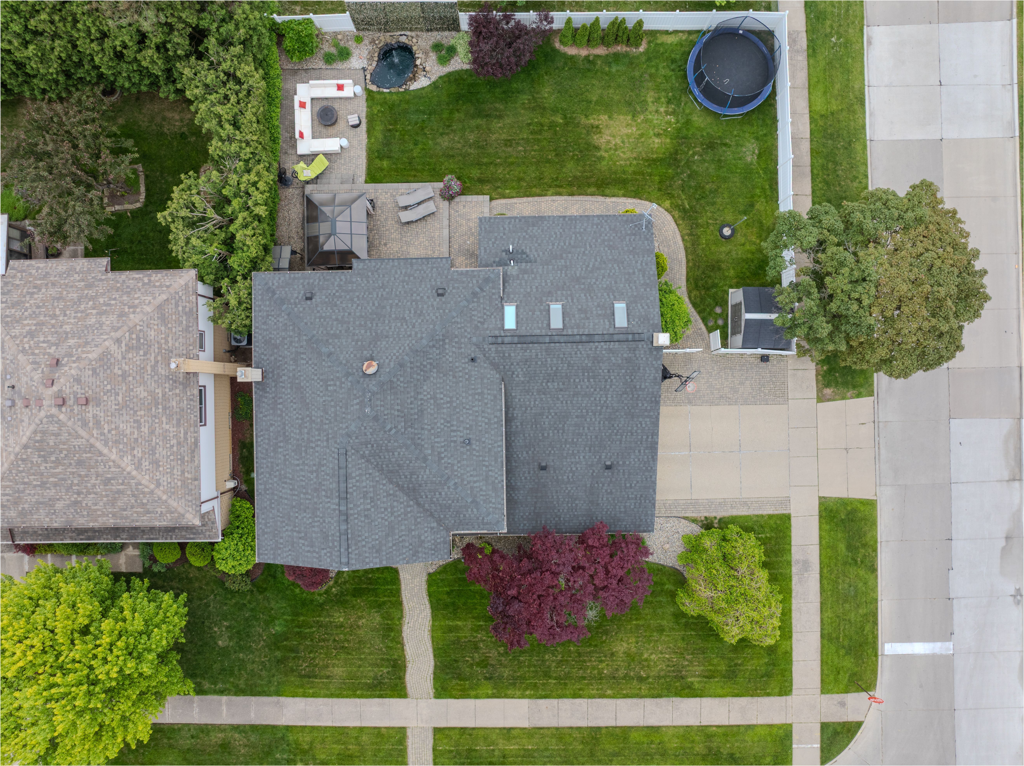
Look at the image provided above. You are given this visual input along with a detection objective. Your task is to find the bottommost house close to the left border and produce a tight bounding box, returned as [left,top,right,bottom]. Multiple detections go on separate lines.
[0,256,244,545]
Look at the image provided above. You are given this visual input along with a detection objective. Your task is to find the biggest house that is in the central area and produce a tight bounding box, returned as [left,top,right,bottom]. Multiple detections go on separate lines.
[236,211,670,572]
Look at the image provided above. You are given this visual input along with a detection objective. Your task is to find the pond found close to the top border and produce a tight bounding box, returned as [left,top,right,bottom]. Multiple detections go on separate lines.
[368,38,417,93]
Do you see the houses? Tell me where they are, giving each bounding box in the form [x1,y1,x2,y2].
[0,256,244,545]
[236,211,670,572]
